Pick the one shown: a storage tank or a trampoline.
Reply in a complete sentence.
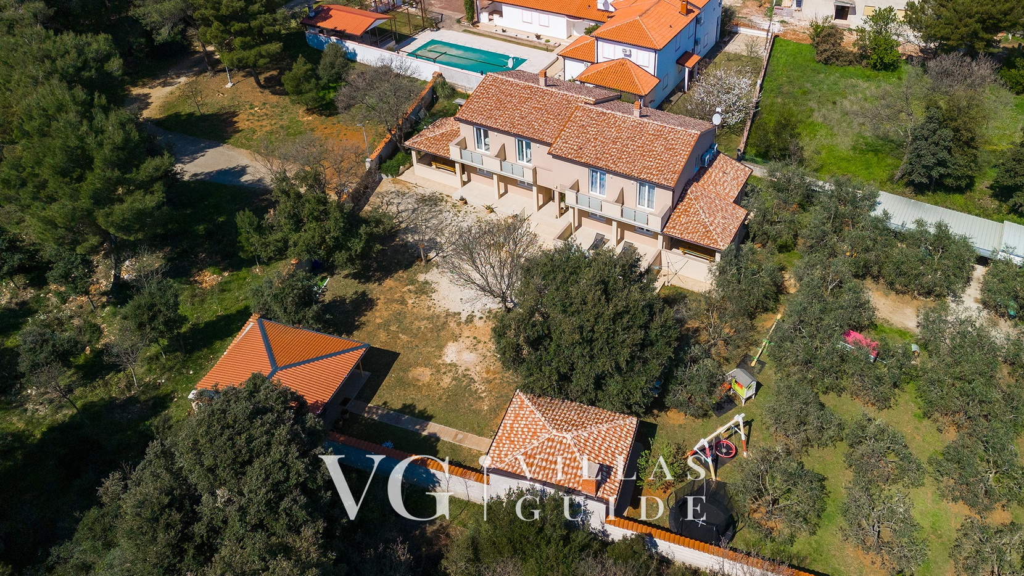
The image shows a trampoline.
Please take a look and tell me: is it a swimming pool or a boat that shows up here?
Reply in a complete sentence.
This aerial view contains a swimming pool.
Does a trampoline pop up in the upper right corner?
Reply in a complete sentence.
No, there is no trampoline in the upper right corner.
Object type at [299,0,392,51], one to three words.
building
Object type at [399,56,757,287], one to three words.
house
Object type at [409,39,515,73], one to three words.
swimming pool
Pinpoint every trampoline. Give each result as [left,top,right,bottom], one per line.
[669,484,734,546]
